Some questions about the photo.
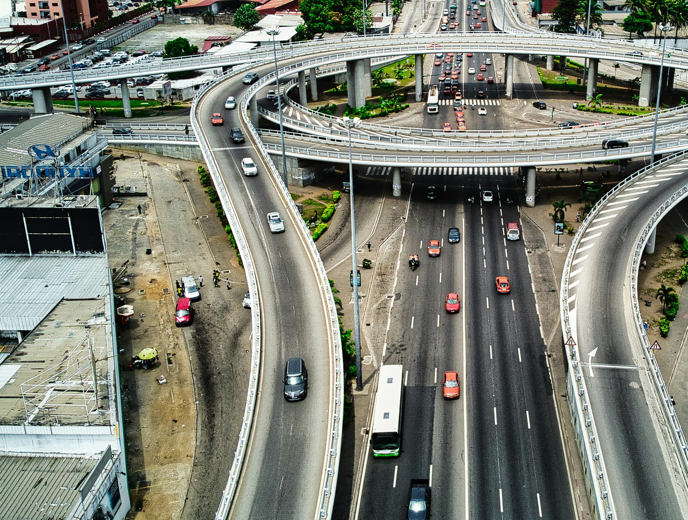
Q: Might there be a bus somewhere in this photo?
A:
Yes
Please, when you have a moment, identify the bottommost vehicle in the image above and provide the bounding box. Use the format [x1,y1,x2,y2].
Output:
[403,476,430,520]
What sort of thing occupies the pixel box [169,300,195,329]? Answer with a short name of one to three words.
vehicle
